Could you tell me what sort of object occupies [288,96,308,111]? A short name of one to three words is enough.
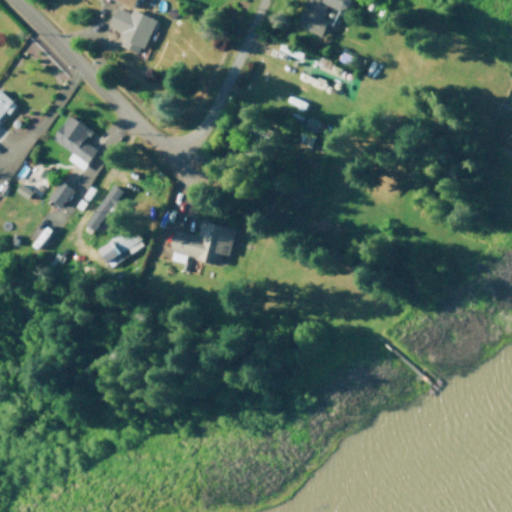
camper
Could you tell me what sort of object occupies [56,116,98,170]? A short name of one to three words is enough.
house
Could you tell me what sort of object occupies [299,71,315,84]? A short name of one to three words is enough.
vehicle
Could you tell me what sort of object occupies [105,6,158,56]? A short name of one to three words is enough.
house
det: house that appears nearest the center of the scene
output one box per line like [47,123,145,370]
[170,223,238,266]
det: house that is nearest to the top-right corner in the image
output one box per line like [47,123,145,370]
[306,0,350,39]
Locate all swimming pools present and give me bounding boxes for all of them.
[18,164,30,179]
[158,0,168,13]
